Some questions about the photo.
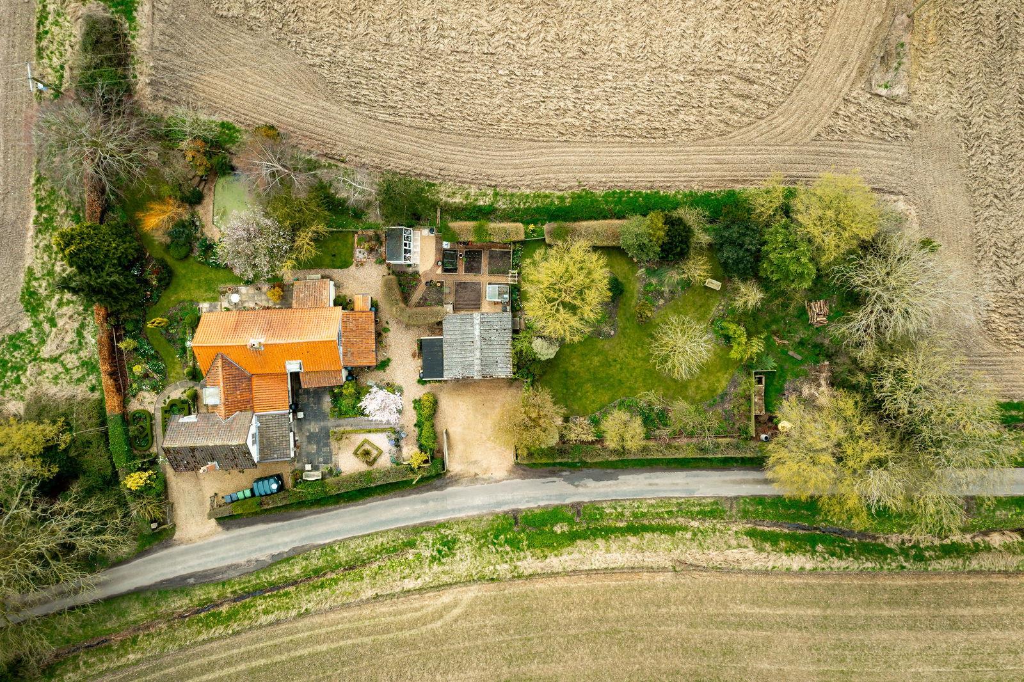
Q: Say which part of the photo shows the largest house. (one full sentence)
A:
The largest house sits in the left section of the image.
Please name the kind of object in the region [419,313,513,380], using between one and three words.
shed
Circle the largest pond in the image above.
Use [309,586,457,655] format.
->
[214,175,265,238]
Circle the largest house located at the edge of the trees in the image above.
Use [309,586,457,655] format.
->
[161,278,378,475]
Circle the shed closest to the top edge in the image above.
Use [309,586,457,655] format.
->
[385,225,414,264]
